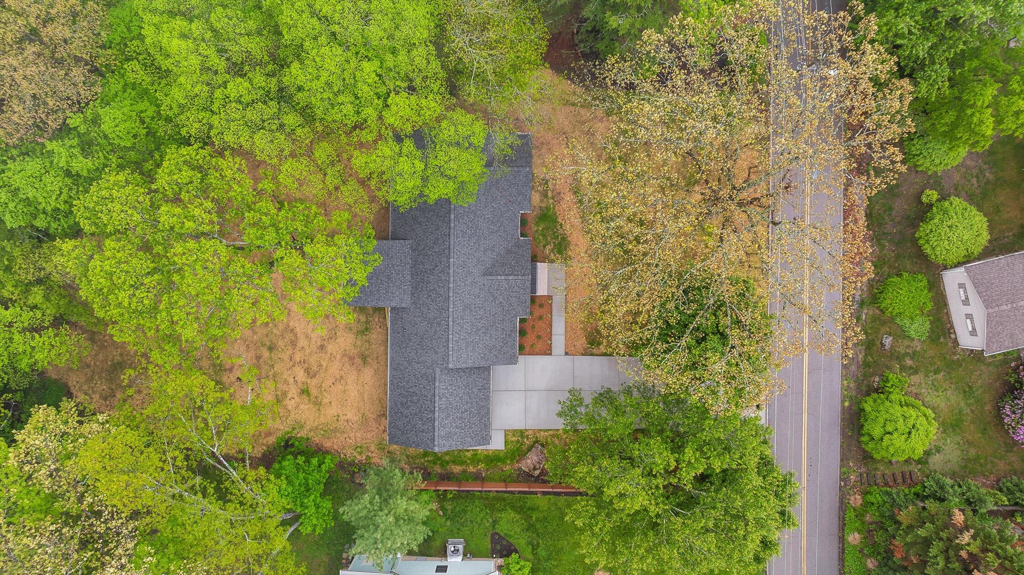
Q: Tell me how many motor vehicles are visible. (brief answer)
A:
0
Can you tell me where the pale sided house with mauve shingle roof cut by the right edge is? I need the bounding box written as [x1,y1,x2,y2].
[941,249,1024,357]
